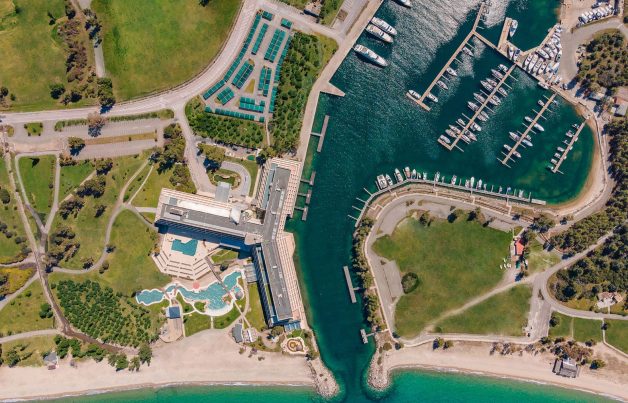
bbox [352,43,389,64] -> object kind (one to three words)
boat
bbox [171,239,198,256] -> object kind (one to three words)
swimming pool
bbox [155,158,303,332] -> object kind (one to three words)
building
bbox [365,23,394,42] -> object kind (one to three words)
boat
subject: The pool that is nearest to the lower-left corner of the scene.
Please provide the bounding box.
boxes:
[136,289,164,305]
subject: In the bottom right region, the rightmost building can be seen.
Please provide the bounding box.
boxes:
[596,292,623,308]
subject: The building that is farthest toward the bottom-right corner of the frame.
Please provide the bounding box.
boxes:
[552,359,579,377]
